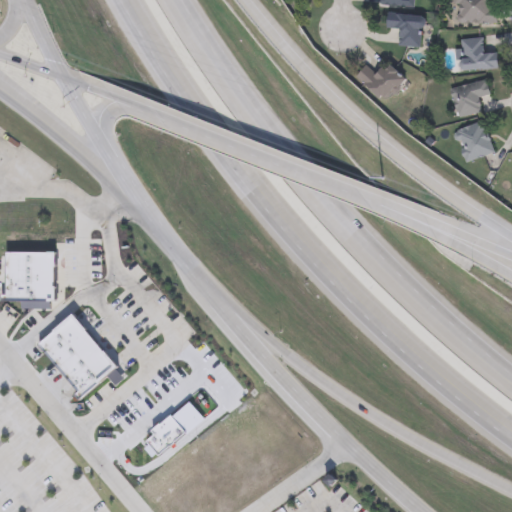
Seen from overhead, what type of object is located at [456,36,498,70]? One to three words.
house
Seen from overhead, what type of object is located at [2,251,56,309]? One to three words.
building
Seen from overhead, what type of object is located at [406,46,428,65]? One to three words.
swimming pool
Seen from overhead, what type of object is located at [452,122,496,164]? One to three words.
house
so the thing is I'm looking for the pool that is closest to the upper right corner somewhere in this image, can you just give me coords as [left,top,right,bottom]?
[445,48,460,72]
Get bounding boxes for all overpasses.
[78,70,512,282]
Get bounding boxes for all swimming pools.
[406,46,428,65]
[445,48,460,72]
